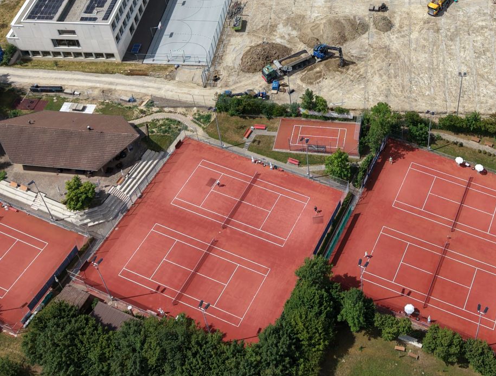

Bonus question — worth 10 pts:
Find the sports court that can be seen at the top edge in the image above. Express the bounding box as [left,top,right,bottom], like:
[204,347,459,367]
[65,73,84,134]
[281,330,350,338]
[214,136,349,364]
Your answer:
[143,0,226,65]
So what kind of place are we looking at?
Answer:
sports ground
